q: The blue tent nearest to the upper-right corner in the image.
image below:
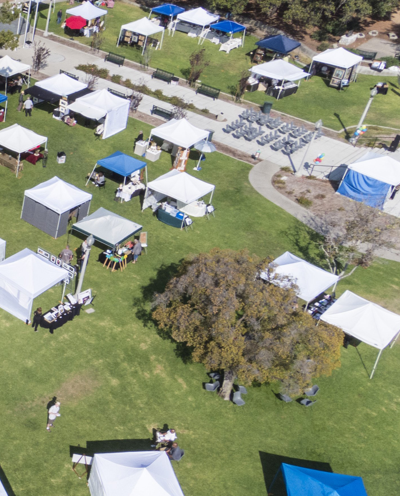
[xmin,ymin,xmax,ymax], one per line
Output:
[249,33,301,65]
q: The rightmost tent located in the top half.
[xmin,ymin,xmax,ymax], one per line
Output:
[338,154,400,212]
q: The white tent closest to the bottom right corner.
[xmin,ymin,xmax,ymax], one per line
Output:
[306,289,400,376]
